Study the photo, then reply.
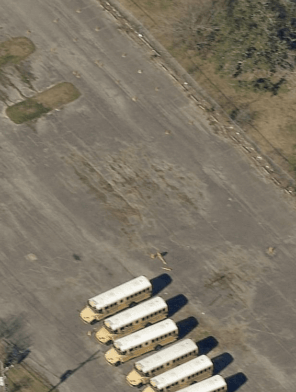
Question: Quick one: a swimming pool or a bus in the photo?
bus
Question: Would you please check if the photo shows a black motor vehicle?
No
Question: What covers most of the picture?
paved ground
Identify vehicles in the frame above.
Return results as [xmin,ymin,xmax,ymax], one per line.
[178,373,227,392]
[142,355,214,392]
[77,275,153,326]
[94,296,169,347]
[124,339,198,390]
[103,318,178,369]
